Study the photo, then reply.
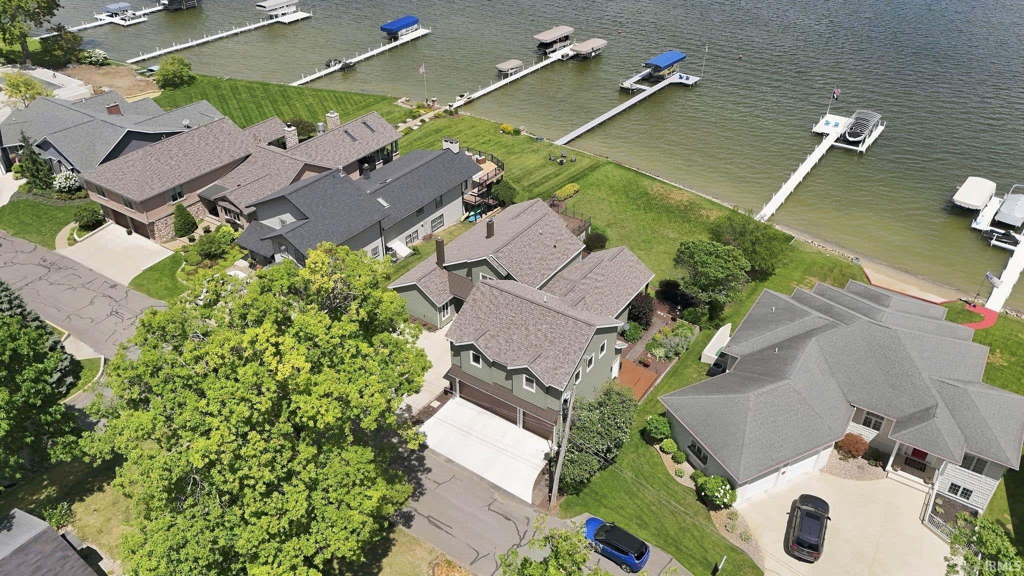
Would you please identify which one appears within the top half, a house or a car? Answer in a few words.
house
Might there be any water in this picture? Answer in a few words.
Yes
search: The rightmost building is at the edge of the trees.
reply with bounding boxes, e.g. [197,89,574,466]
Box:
[657,279,1024,505]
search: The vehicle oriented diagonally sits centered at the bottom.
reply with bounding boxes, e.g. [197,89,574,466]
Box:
[582,521,656,576]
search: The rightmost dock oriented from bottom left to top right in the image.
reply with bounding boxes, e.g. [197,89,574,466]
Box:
[755,110,887,222]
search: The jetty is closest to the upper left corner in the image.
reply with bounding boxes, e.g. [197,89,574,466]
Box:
[79,7,162,28]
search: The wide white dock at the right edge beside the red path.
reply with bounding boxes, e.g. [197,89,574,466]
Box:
[969,192,1024,314]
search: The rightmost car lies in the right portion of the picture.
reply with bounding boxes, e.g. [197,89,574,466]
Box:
[784,494,827,561]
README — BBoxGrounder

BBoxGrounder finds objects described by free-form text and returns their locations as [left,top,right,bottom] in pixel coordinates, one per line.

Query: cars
[582,521,656,576]
[784,494,827,561]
